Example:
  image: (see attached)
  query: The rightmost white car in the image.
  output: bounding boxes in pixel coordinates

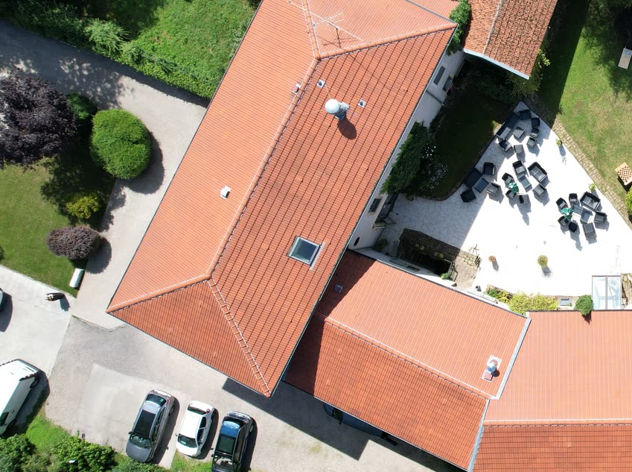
[172,396,218,459]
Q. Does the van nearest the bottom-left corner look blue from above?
No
